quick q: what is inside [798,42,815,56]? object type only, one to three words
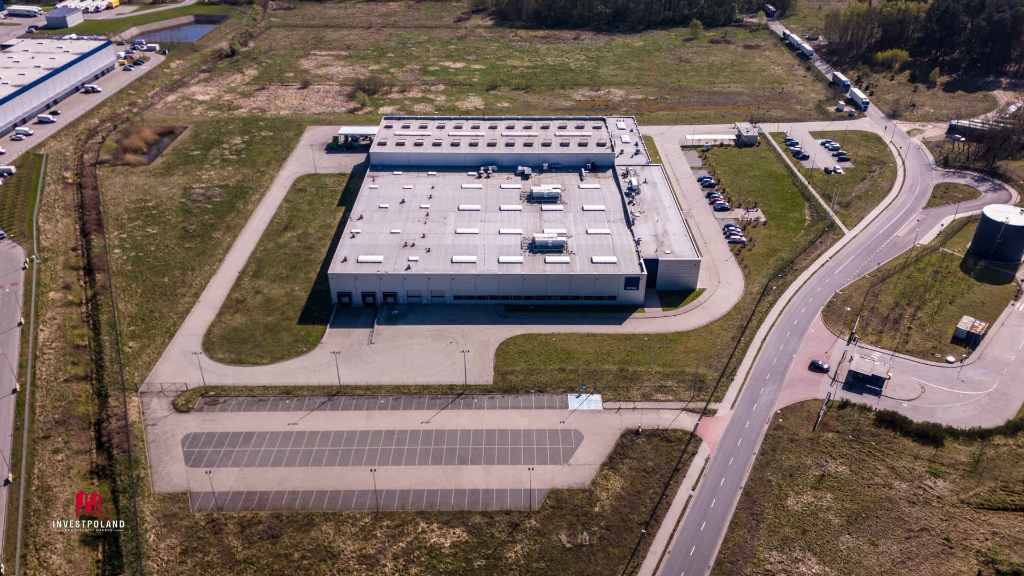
vehicle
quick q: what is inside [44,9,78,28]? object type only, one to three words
shed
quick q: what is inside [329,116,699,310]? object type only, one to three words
building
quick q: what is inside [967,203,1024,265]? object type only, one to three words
water tank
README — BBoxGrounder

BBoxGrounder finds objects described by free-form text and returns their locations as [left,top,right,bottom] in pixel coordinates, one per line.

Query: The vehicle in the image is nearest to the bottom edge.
[808,360,830,372]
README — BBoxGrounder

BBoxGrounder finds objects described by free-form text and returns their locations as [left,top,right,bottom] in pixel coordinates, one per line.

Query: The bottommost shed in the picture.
[847,351,900,391]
